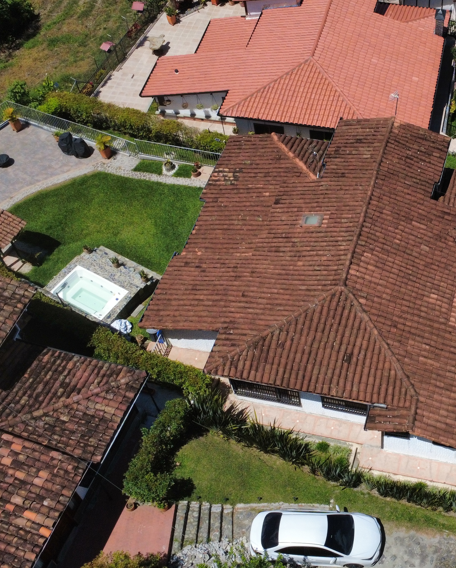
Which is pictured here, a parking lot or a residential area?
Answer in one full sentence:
This image shows a residential area.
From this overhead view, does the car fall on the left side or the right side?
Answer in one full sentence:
The car sits on the right side.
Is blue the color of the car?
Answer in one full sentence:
No, from above the car looks white.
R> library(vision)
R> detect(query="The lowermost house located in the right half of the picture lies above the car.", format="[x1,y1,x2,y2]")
[138,116,456,462]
